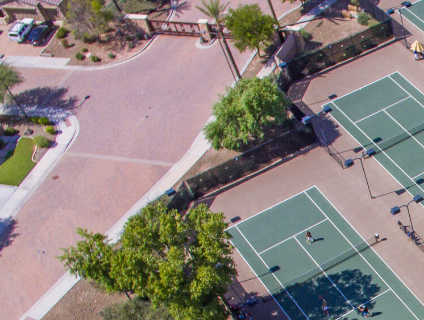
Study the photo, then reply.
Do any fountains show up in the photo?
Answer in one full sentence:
No, no fountain is visible in the scene.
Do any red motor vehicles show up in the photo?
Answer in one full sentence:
No, I can't see a single red motor vehicle in this photo.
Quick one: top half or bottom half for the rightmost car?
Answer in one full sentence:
It is in the top half that the rightmost car appears.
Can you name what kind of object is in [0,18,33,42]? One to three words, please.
car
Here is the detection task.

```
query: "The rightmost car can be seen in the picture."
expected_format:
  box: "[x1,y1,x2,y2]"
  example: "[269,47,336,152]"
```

[22,24,52,47]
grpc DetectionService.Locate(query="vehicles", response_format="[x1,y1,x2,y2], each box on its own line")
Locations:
[0,18,33,42]
[22,24,52,47]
